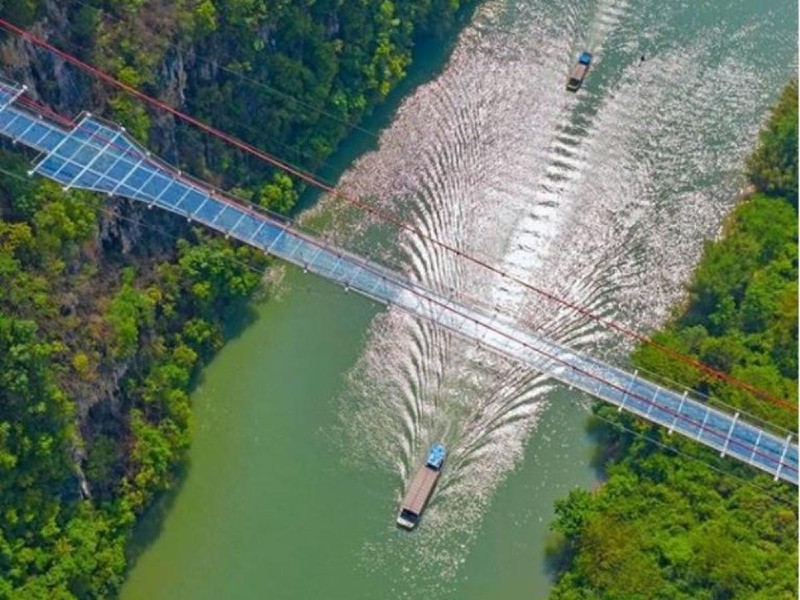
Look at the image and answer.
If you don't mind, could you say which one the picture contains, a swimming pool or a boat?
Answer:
boat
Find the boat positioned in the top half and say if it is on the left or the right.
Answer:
right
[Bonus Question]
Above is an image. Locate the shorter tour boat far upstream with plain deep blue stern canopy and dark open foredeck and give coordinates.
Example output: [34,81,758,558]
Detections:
[566,48,594,92]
